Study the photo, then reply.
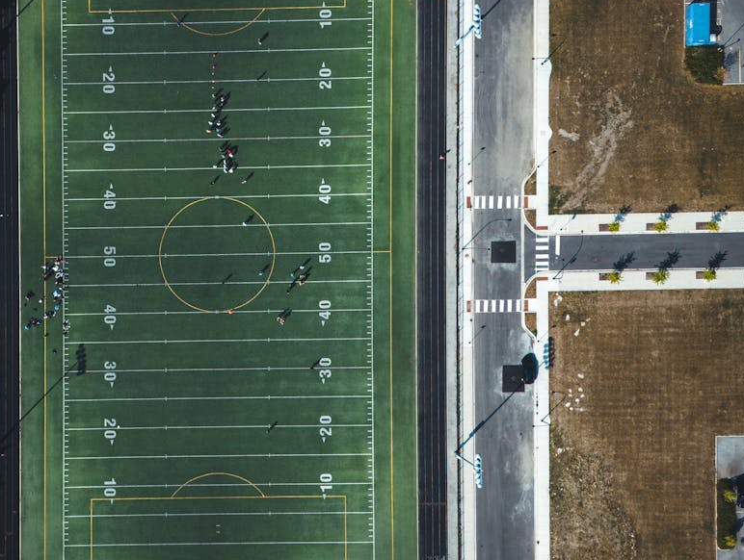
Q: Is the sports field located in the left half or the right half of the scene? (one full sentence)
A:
It is on the left.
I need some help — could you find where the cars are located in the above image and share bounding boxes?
[735,476,744,507]
[522,360,536,387]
